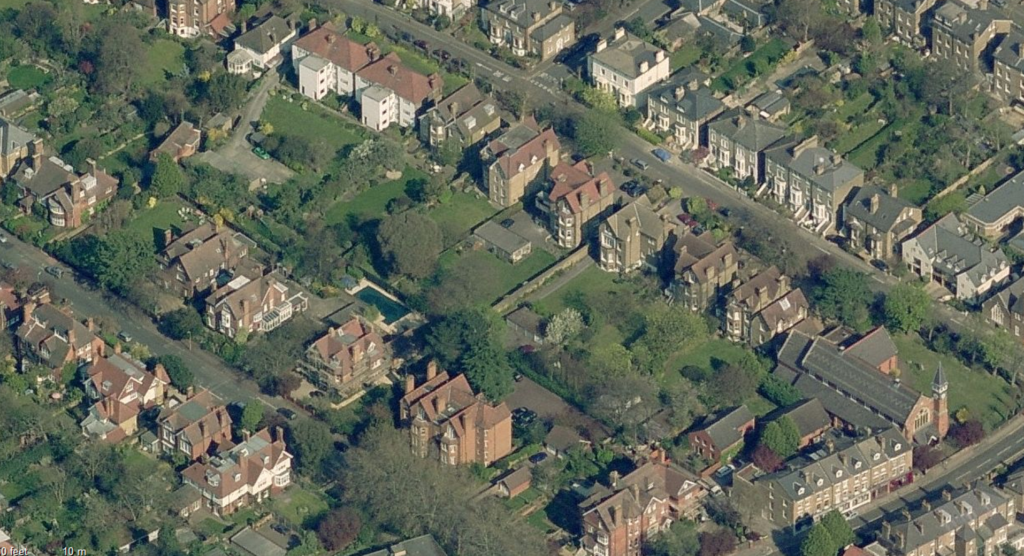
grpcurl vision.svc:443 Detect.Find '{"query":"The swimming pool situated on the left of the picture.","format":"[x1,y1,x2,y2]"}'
[350,284,416,328]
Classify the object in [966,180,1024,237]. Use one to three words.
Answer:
building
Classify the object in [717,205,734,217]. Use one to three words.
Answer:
vehicle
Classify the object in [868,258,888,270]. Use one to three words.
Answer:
vehicle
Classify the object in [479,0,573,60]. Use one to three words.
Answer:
house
